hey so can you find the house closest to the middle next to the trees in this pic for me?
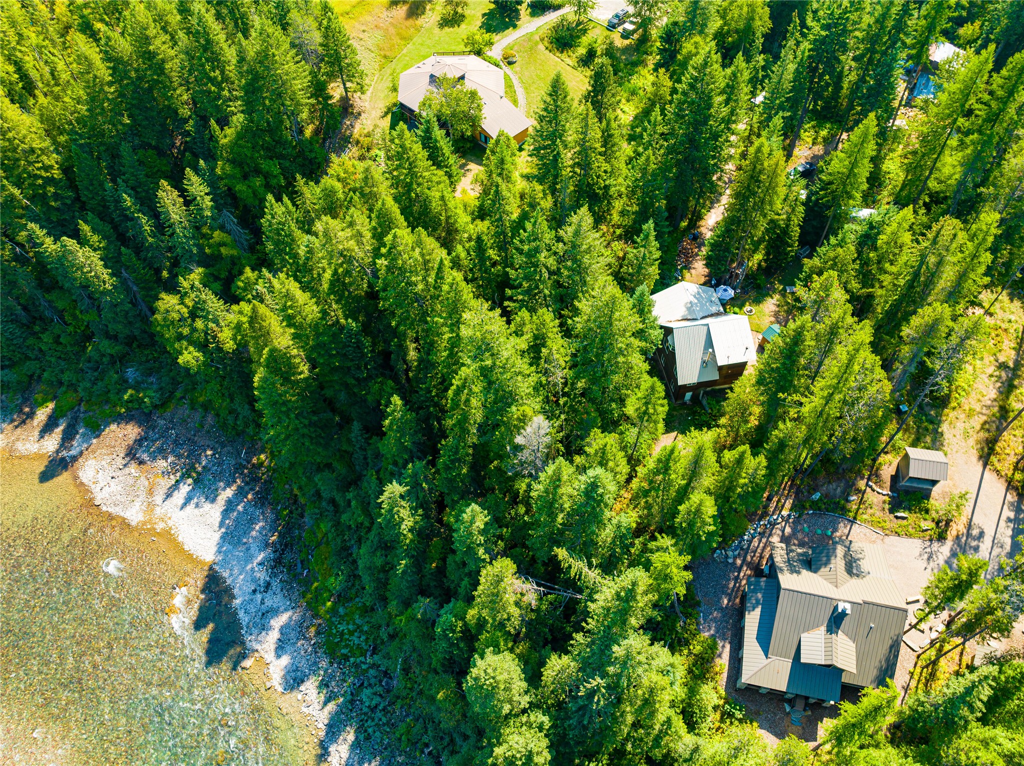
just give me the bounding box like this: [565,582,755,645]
[648,280,757,405]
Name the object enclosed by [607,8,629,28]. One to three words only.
car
